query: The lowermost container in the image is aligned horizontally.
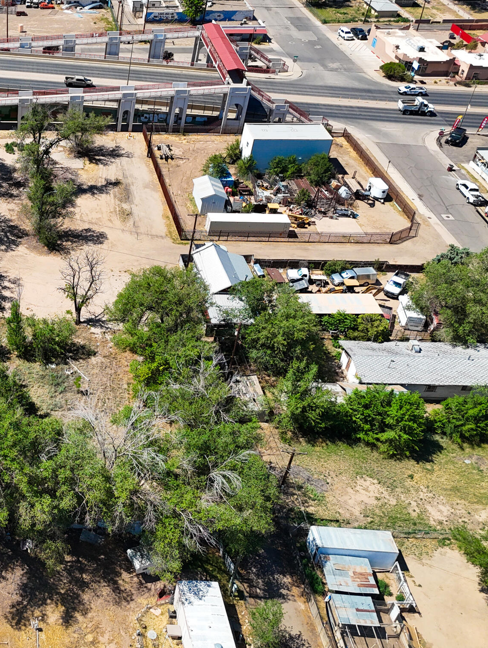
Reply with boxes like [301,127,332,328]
[304,526,399,569]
